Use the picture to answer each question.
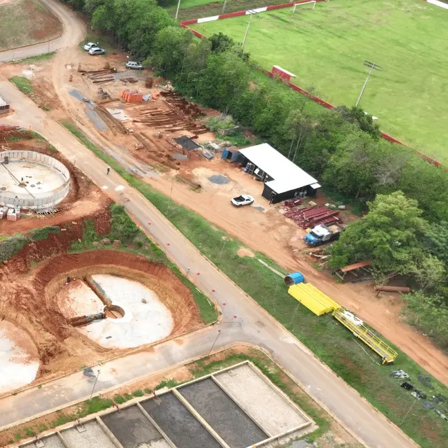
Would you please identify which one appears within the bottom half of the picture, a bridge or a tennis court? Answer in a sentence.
There is a bridge within the bottom half of the picture.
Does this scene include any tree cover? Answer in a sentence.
Yes, tree cover can be seen from above here.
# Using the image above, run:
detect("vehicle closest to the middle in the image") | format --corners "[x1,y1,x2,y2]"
[231,194,254,206]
